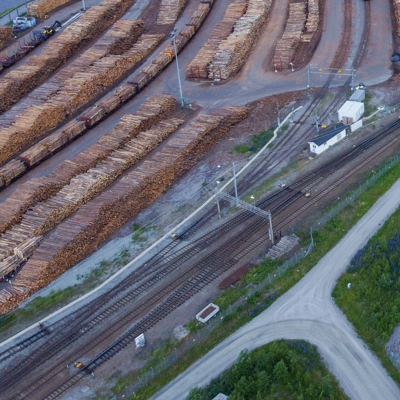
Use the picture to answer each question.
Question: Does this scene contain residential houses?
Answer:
Yes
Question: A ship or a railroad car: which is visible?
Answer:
railroad car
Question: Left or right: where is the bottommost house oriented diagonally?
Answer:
right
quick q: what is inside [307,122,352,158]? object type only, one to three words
house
